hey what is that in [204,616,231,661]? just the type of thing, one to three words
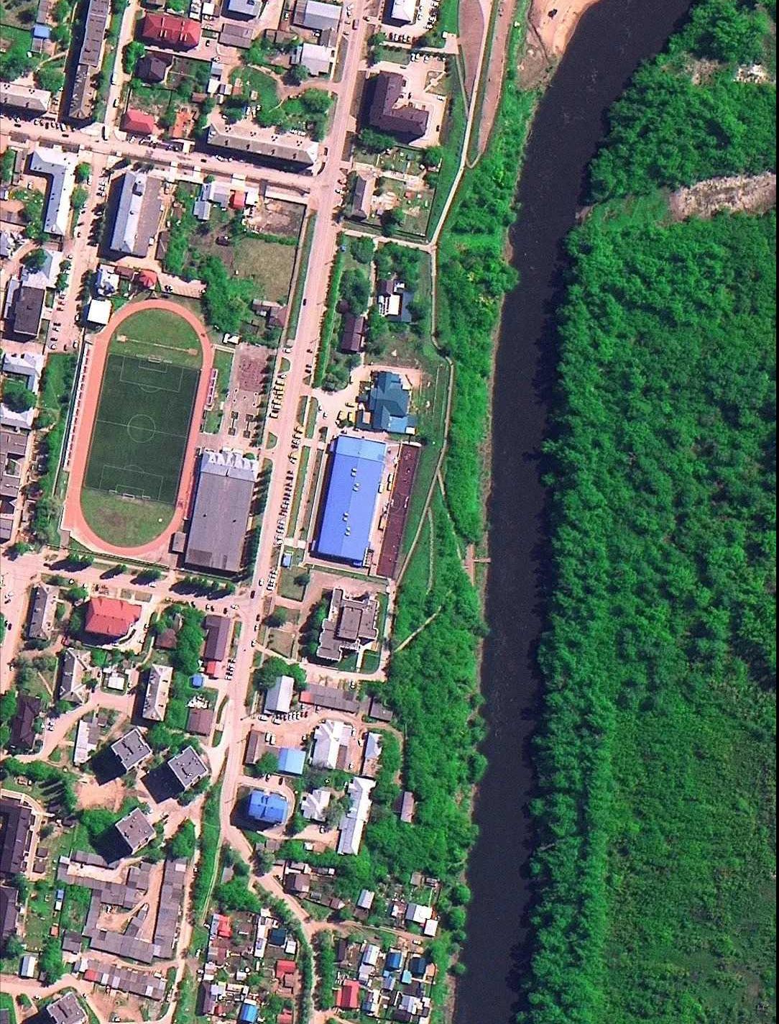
building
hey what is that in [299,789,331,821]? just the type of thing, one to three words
house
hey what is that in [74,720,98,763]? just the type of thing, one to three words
barn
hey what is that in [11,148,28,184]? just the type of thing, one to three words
shed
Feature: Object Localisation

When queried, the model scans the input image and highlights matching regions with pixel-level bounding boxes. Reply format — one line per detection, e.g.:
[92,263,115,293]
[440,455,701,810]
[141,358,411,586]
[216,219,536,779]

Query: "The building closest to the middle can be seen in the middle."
[318,435,387,566]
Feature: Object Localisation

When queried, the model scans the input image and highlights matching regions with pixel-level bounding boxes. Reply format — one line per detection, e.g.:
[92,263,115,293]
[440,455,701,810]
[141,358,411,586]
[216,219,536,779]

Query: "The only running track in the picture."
[60,300,214,555]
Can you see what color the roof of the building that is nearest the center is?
blue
